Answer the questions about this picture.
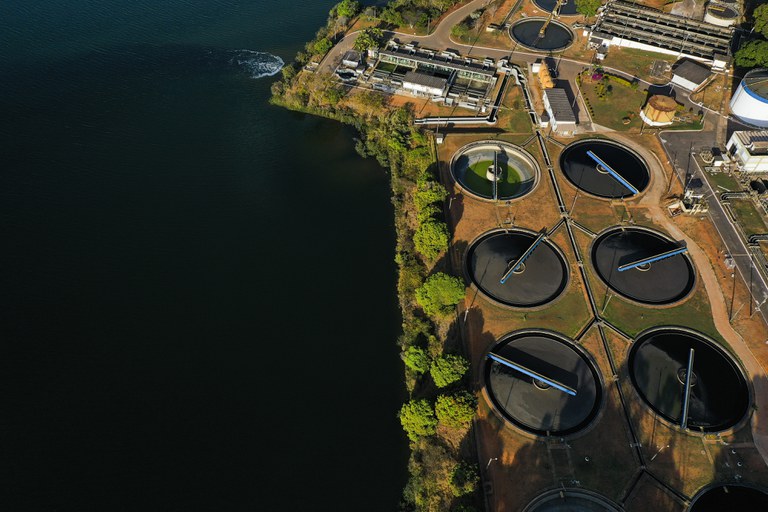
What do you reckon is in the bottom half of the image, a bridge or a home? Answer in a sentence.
You can see a bridge in the bottom half of the image.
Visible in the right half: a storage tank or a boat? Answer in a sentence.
The feature located in the right half is a storage tank.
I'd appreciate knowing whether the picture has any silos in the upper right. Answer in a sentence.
Yes, a silo appears in the upper right.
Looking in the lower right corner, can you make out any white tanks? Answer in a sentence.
No, the scene shows no white tank in the lower right corner.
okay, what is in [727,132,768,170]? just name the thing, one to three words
building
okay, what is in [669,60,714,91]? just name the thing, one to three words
house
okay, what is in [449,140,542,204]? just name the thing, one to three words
storage tank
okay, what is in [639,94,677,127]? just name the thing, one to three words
silo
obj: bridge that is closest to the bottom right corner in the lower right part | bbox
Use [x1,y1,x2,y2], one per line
[677,348,695,431]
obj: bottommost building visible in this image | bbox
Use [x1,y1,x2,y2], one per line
[676,187,709,217]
